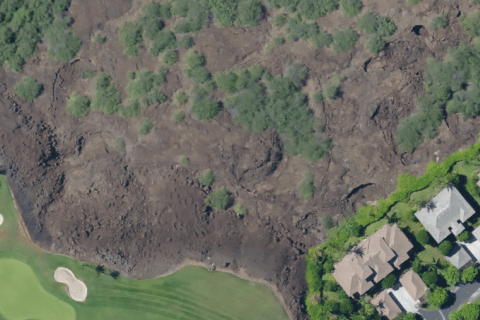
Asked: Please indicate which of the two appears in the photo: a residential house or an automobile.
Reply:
residential house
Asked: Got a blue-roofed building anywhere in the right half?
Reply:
No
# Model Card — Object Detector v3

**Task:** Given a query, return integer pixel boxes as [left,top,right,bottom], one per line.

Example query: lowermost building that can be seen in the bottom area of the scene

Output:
[371,289,403,320]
